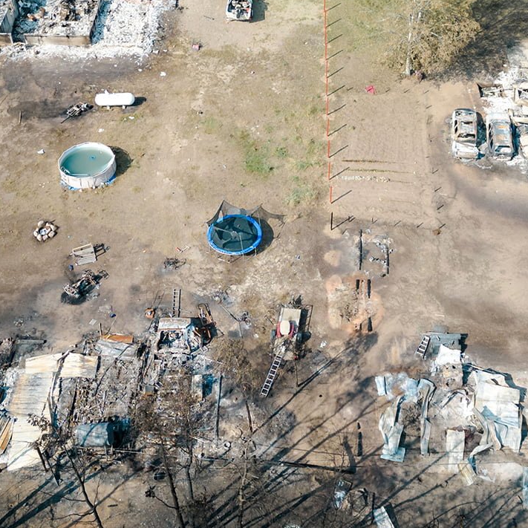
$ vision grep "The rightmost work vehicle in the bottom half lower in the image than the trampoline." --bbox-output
[267,298,309,354]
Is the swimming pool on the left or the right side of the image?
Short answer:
left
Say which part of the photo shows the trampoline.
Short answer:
center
